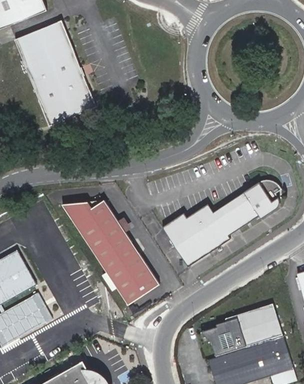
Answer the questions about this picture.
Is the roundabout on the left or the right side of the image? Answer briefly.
right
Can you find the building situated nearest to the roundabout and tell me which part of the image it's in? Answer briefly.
right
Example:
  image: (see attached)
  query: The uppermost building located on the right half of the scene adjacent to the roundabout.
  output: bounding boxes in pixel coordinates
[162,180,282,266]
